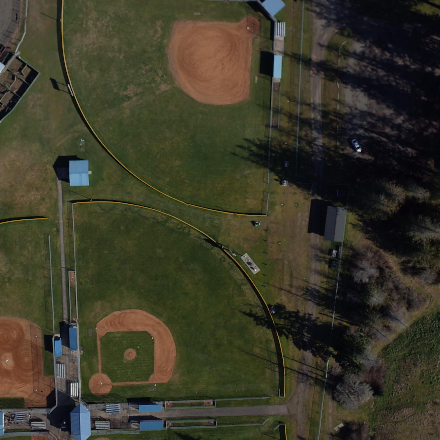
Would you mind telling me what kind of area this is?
sports ground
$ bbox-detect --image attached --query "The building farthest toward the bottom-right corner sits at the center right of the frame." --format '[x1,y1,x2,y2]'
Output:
[323,206,346,242]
